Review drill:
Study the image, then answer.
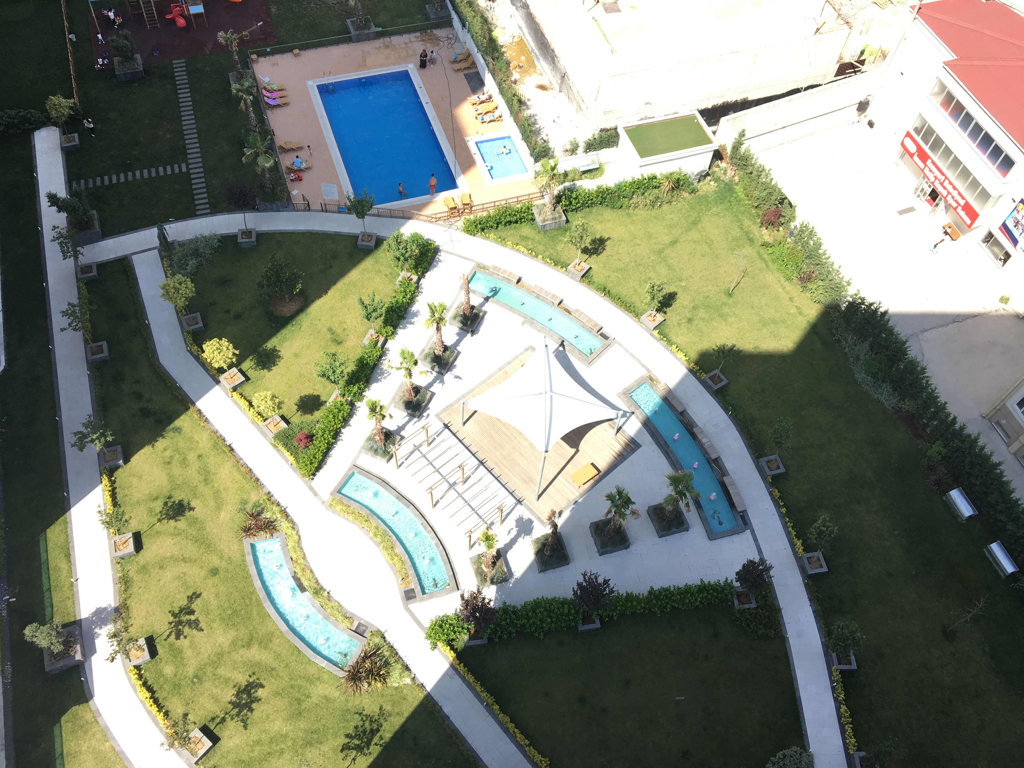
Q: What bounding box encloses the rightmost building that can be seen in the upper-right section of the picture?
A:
[867,0,1024,326]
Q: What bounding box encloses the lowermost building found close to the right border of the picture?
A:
[981,376,1024,469]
